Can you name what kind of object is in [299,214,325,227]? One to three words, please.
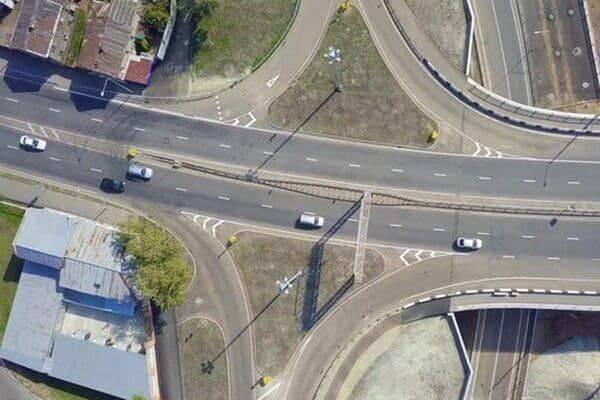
vehicle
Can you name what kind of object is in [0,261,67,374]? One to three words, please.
building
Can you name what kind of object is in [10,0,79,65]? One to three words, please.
house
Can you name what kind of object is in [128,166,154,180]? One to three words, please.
vehicle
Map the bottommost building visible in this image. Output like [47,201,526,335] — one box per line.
[47,330,157,400]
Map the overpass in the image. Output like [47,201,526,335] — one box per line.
[449,79,600,315]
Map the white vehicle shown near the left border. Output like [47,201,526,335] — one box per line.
[20,136,47,151]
